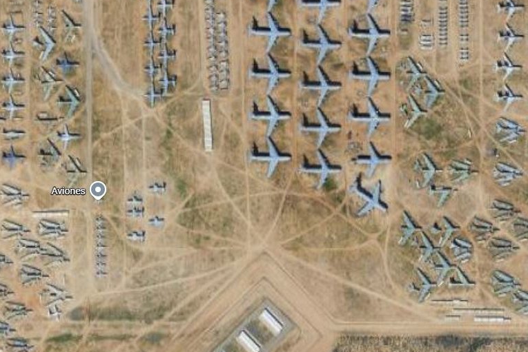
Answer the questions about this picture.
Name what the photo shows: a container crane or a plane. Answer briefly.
plane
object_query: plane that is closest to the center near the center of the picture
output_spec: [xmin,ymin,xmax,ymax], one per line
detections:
[250,137,291,178]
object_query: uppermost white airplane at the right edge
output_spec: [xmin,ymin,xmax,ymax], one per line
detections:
[499,0,525,20]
